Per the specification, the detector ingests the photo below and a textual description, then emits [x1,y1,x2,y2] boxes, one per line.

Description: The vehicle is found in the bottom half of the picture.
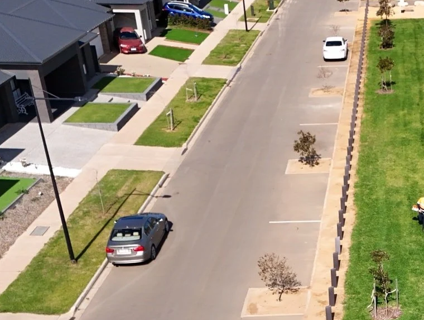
[103,209,169,266]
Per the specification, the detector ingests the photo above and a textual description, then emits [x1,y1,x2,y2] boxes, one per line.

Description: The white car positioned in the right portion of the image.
[323,33,352,58]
